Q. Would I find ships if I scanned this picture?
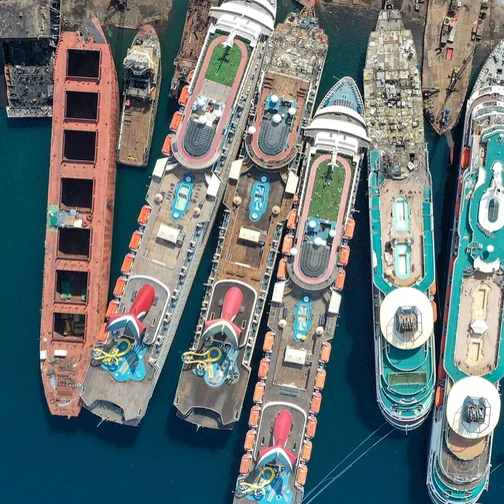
Yes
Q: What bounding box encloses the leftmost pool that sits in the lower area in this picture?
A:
[293,289,313,340]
